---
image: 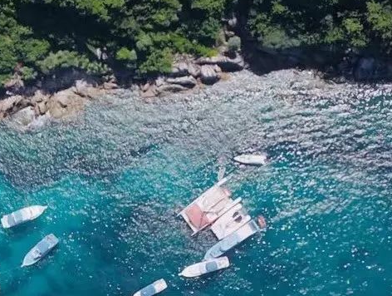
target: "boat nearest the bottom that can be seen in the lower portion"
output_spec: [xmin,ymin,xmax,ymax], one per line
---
[133,278,169,296]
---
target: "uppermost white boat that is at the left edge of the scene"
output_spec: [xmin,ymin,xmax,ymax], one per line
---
[0,205,48,229]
